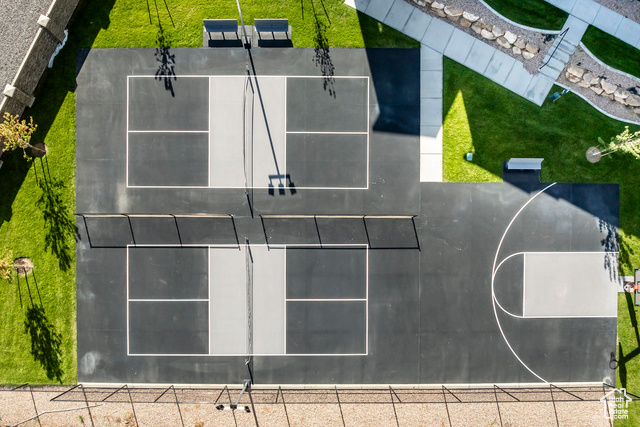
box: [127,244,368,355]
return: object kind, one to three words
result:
sports court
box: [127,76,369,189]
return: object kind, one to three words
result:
sports court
